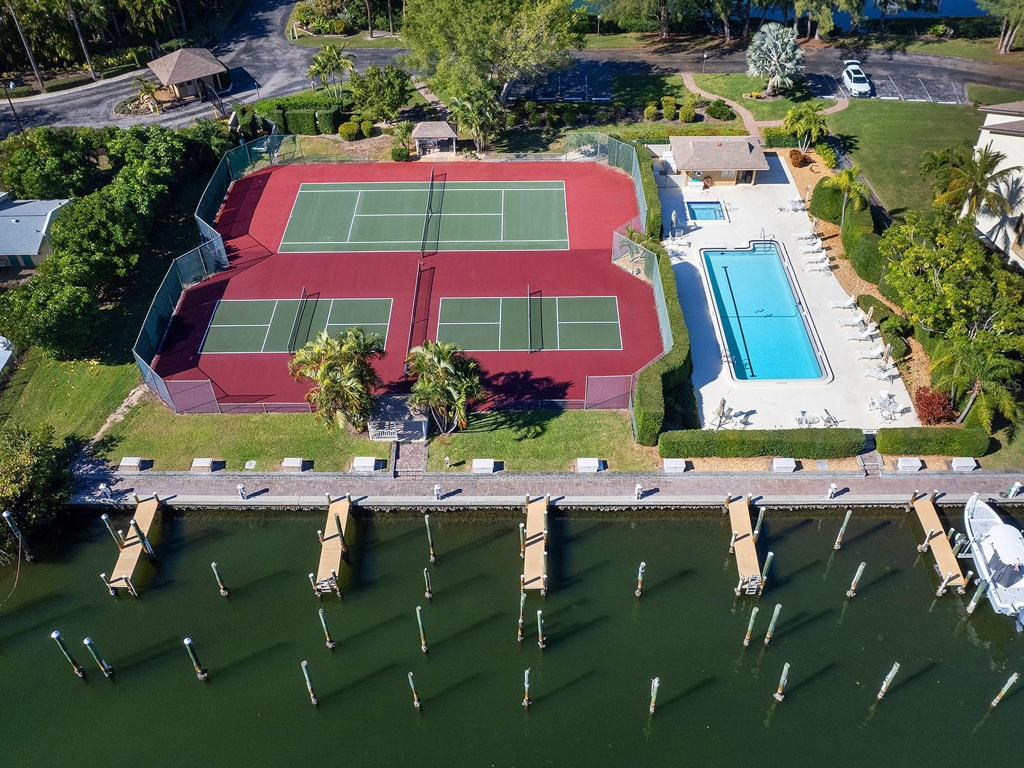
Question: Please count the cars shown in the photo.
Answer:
1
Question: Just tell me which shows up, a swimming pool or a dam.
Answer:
swimming pool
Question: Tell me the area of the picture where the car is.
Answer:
top right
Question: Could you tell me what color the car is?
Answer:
white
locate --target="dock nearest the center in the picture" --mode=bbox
[517,491,552,599]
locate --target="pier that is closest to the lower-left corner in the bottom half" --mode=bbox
[100,493,167,601]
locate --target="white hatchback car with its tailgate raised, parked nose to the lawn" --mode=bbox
[843,56,872,94]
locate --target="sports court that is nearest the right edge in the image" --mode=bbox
[436,297,623,350]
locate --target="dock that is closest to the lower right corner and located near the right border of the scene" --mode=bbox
[907,488,975,597]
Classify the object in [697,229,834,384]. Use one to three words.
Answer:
swimming pool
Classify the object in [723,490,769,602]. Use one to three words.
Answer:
pier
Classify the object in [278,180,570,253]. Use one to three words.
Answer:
tennis court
